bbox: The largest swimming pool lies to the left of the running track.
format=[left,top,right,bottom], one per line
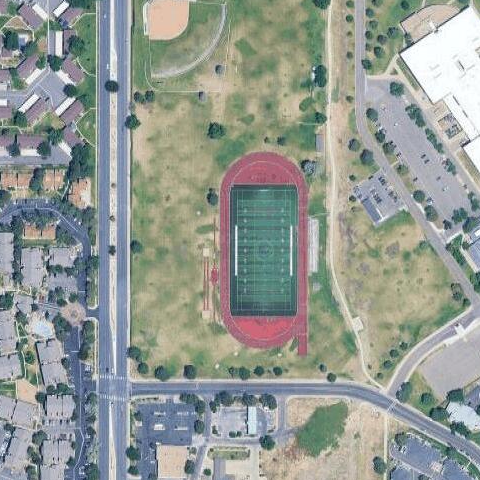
[30,313,59,342]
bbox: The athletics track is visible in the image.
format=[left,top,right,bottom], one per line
[220,151,308,355]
